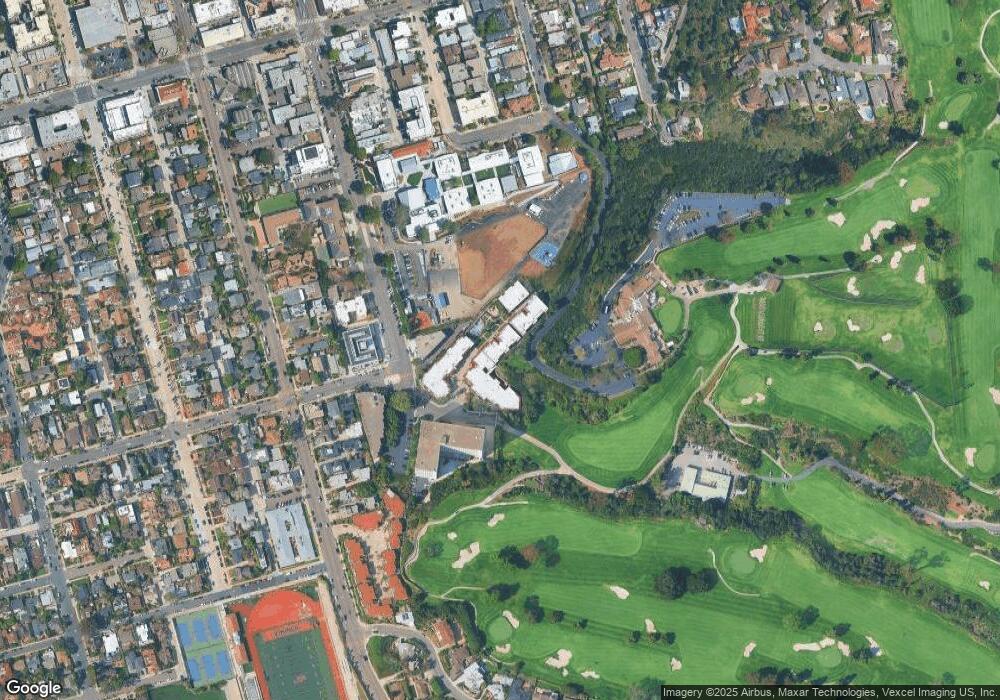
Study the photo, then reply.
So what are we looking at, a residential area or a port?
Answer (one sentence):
The area seen from above is a residential area.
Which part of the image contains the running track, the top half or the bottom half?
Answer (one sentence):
The running track is in the bottom half of the image.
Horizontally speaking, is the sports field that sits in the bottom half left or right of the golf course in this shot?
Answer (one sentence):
The sports field that sits in the bottom half appears to the left of the golf course in this view.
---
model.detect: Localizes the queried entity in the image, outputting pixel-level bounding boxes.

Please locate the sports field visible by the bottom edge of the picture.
[255,621,339,700]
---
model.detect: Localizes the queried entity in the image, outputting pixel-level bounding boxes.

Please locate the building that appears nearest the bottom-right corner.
[682,467,731,501]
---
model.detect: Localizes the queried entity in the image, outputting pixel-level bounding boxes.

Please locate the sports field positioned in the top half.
[459,213,547,299]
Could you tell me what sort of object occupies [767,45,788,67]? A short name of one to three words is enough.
house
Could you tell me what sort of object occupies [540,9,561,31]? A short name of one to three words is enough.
house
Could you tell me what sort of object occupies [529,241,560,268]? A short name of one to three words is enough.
basketball court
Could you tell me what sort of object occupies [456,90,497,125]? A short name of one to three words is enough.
building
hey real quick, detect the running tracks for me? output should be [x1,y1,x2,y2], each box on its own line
[230,590,348,700]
